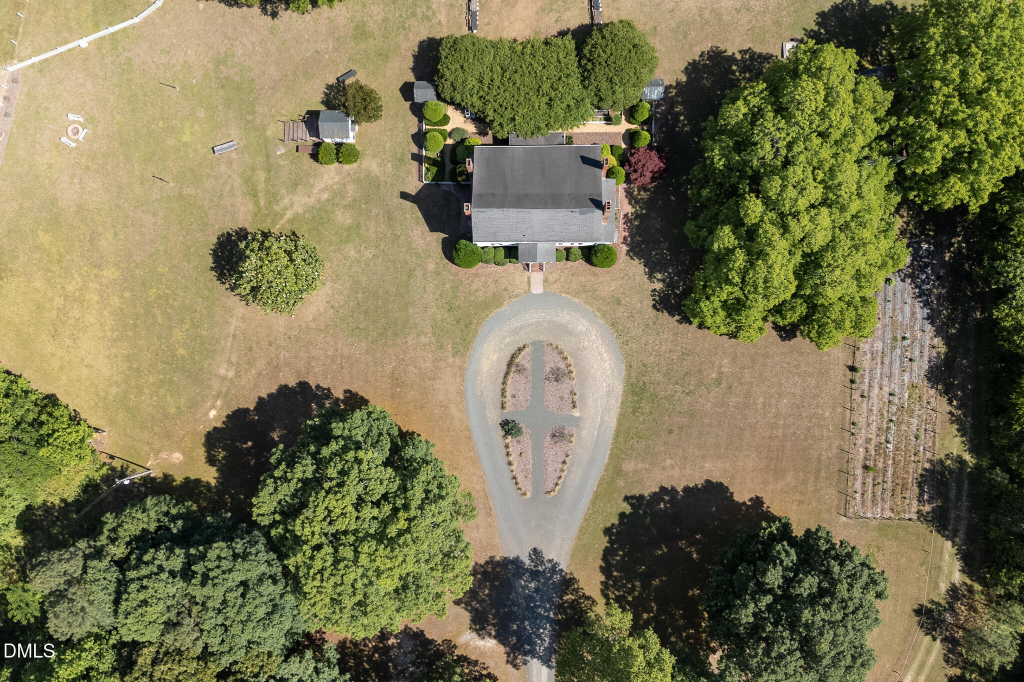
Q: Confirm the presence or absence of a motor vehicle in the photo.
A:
No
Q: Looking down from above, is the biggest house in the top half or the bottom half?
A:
top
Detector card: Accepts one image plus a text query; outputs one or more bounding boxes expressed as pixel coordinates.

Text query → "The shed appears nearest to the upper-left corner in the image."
[317,111,354,142]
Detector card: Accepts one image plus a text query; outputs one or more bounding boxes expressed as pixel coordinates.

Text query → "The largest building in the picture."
[464,132,616,274]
